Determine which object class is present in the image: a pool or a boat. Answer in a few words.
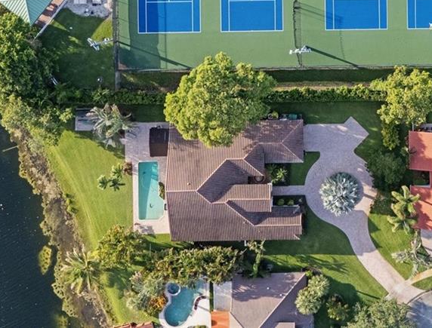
pool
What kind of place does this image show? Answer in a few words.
residential area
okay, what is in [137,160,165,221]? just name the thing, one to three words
swimming pool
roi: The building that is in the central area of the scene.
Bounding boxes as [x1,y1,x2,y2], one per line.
[165,119,303,242]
